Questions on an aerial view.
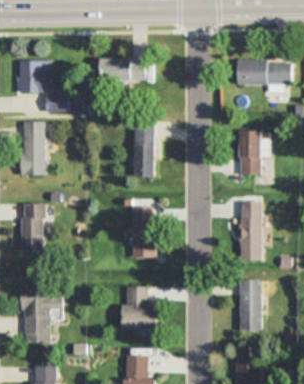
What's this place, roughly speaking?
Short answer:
residential area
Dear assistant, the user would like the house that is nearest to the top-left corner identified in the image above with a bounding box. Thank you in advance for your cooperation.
[18,60,73,114]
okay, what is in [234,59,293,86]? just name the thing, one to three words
house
